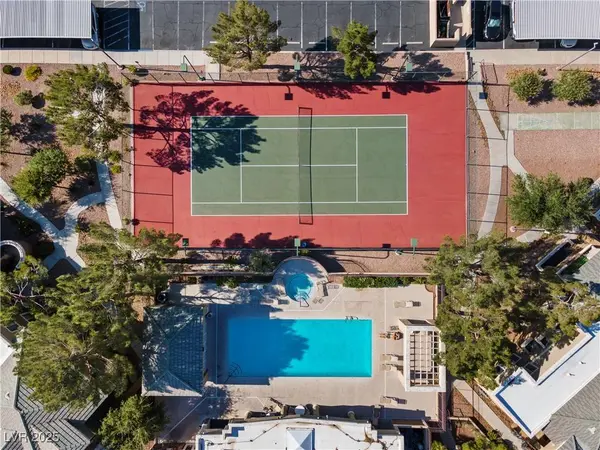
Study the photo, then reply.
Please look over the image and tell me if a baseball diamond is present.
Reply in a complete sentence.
No, no baseball diamond can be seen from above.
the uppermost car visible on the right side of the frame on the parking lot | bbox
[480,0,503,43]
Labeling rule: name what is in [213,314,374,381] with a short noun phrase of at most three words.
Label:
swimming pool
